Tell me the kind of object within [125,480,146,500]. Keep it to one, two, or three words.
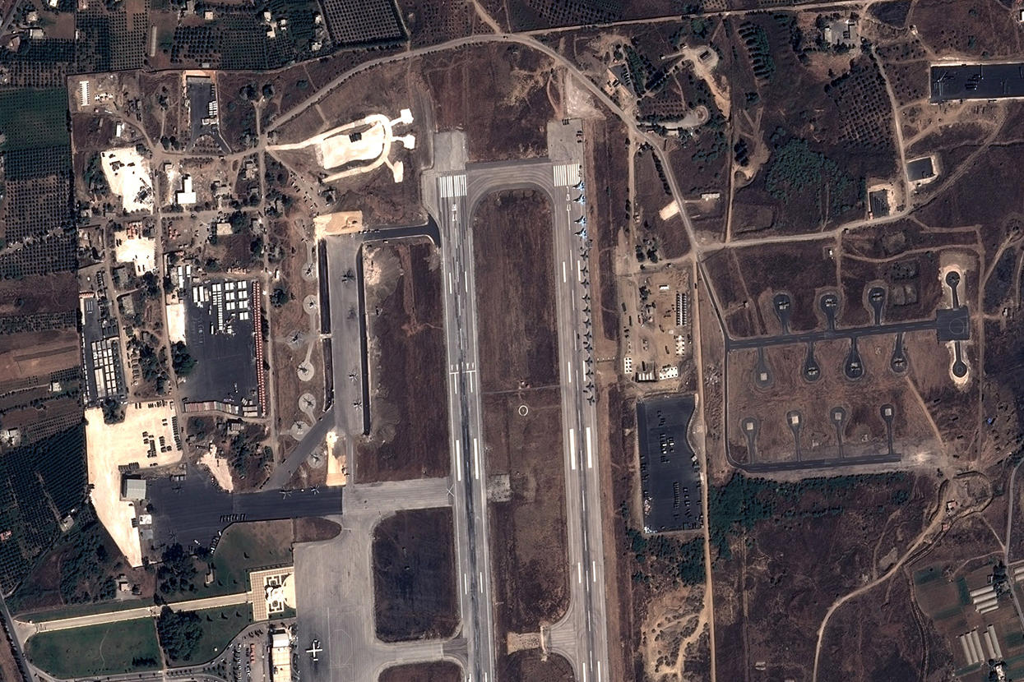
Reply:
hangar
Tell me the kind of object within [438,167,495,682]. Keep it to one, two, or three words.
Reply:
runway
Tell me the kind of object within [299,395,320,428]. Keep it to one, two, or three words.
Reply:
helipad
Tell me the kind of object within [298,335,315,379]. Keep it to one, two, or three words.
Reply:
helipad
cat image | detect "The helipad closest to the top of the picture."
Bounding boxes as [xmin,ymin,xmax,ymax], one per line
[302,241,317,278]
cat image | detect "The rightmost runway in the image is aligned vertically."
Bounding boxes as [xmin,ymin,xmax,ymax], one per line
[553,163,609,682]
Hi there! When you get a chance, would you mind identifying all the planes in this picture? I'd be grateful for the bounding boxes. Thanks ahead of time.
[583,382,597,391]
[579,294,593,303]
[574,184,586,193]
[579,266,592,276]
[575,196,587,204]
[583,357,596,366]
[578,218,588,227]
[580,306,593,315]
[576,229,588,238]
[583,369,597,379]
[578,251,591,261]
[581,279,592,288]
[582,344,595,353]
[581,332,595,341]
[305,643,324,658]
[581,319,594,328]
[584,396,598,405]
